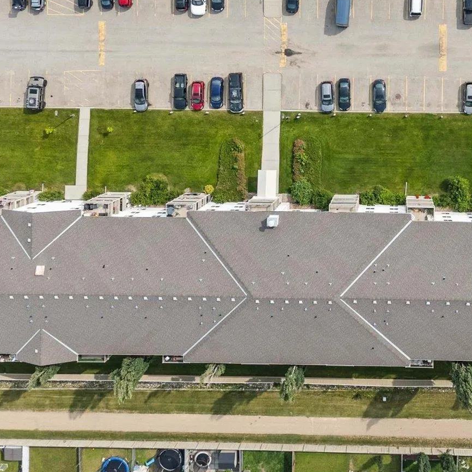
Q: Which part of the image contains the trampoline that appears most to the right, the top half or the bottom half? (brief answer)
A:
bottom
